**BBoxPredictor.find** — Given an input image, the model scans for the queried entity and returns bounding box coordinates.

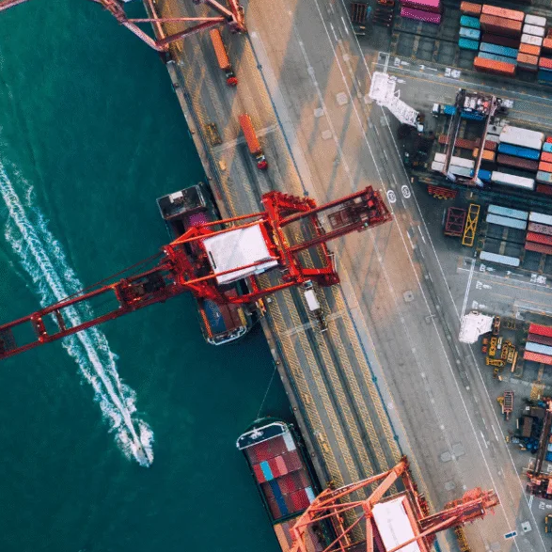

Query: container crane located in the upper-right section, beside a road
[440,85,504,192]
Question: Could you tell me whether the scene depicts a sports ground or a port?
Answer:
port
